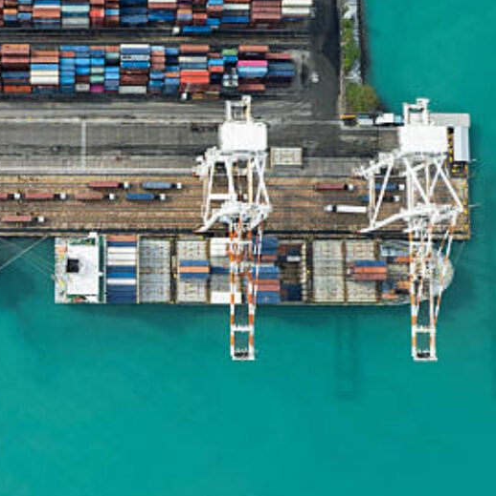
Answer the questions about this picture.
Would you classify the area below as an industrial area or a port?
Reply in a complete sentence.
The area seen from above is a port.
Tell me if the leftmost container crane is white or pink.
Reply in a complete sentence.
From above, the leftmost container crane appears white.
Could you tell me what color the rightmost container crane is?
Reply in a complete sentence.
From above, the rightmost container crane appears white.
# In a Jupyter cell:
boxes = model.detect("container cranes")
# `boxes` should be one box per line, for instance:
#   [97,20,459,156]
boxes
[191,98,273,361]
[349,99,469,362]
